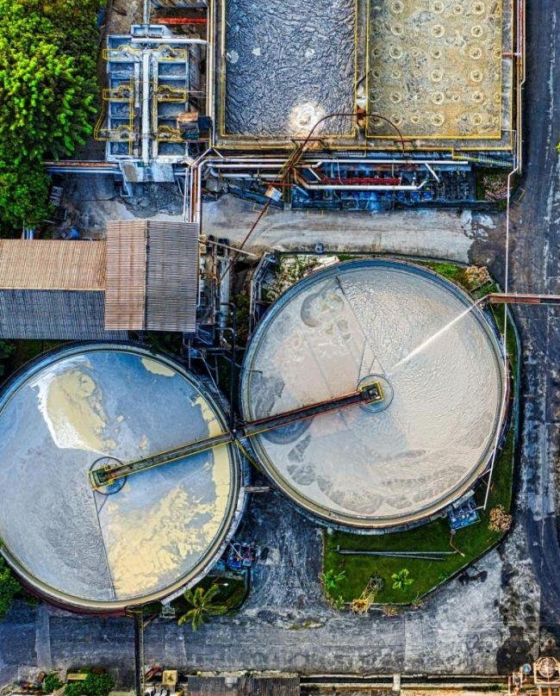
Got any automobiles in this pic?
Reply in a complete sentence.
No, there appears to be no automobile in this shot.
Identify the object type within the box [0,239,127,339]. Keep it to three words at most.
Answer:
shed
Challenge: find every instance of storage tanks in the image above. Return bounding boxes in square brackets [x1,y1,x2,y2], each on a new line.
[0,341,256,613]
[242,261,508,528]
